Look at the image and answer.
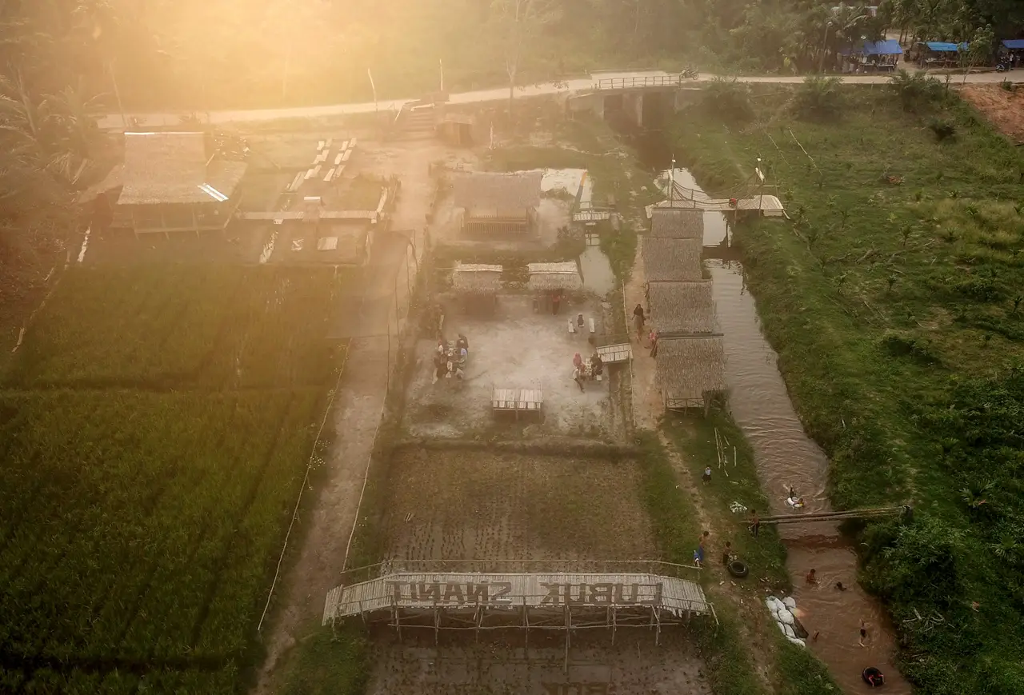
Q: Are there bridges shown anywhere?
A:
Yes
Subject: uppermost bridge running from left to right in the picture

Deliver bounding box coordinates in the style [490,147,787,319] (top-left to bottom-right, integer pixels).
[592,70,696,119]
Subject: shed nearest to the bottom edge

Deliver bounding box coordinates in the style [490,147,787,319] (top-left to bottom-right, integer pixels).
[640,330,727,414]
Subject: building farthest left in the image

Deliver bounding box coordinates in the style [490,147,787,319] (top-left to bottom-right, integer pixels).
[77,131,249,243]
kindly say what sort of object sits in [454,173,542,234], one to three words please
building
